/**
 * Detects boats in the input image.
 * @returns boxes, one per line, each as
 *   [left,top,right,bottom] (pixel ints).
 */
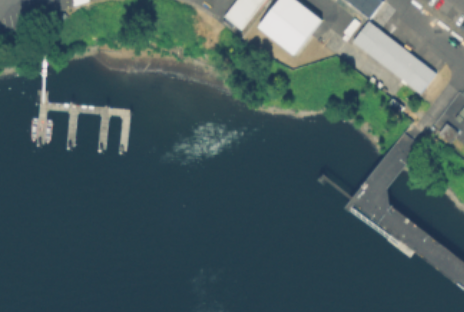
[31,116,38,142]
[46,118,53,142]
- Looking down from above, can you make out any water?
Yes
